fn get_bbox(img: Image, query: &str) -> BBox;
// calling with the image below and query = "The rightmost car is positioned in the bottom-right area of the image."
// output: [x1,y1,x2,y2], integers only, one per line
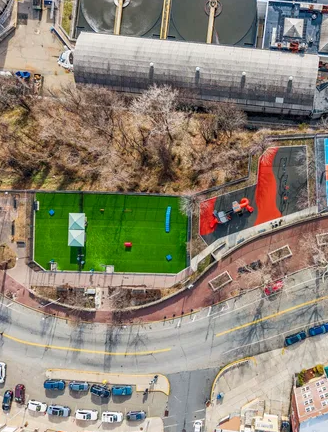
[308,323,328,337]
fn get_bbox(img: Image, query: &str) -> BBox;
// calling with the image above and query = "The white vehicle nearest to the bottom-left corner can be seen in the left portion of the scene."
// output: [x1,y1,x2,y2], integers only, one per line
[27,399,49,413]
